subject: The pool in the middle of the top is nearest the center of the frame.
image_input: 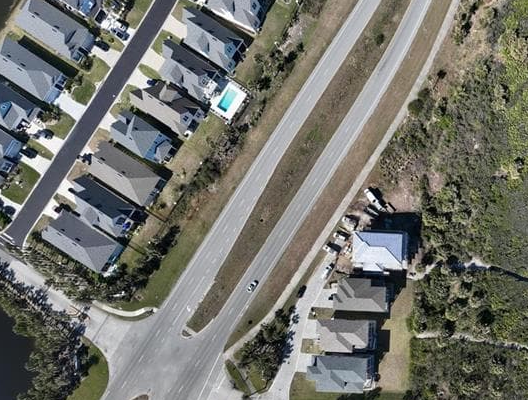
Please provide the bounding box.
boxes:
[210,82,247,119]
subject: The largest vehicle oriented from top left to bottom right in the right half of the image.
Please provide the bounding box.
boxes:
[365,188,384,210]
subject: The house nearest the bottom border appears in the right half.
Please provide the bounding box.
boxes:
[310,355,374,392]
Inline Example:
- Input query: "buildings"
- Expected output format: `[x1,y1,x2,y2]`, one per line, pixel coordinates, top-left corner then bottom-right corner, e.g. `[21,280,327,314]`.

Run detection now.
[156,42,222,103]
[310,355,374,392]
[0,38,72,104]
[320,319,376,352]
[11,0,98,65]
[0,85,44,130]
[66,182,149,243]
[86,140,171,202]
[108,110,177,163]
[207,0,280,36]
[42,210,127,274]
[130,77,203,139]
[335,278,392,311]
[182,12,256,73]
[60,0,107,22]
[0,130,28,173]
[353,232,408,271]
